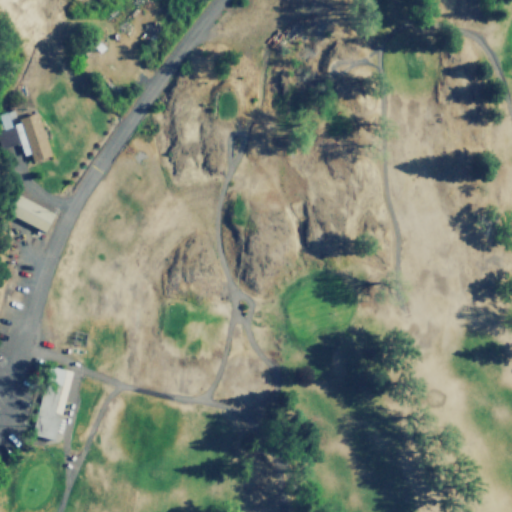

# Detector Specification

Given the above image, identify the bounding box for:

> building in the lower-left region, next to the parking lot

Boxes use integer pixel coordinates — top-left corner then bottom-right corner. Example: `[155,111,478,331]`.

[37,369,74,442]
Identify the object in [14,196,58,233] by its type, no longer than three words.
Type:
building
